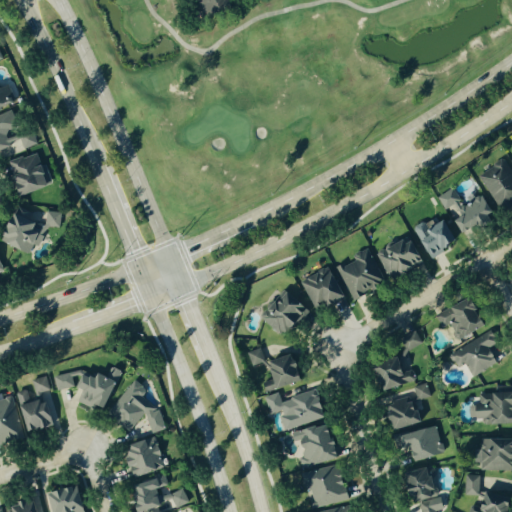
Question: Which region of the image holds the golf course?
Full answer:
The golf course is located in the top region of the scene.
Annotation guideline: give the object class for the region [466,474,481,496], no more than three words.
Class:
building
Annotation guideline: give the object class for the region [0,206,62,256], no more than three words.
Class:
house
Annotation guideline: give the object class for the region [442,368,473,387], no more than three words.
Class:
swimming pool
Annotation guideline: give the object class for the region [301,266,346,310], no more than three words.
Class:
house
